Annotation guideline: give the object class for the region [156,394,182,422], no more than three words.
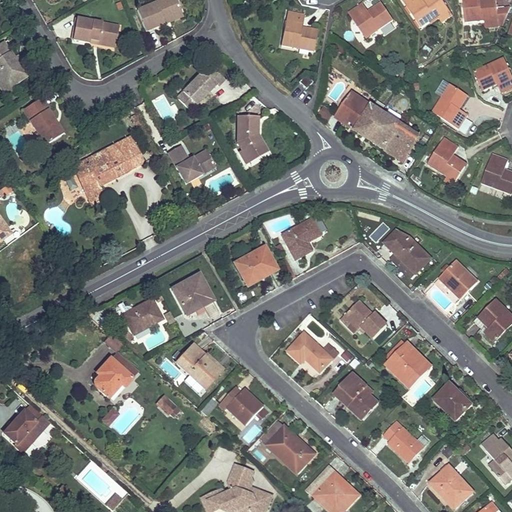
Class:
shed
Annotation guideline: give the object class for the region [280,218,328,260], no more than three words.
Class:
house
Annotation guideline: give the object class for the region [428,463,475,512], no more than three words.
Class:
house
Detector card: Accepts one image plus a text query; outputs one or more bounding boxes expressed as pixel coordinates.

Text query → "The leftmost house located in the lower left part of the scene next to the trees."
[7,405,50,448]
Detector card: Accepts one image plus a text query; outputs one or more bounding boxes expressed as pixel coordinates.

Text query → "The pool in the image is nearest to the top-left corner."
[6,126,23,152]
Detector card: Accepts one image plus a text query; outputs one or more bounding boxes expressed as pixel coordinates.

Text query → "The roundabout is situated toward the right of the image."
[308,148,360,199]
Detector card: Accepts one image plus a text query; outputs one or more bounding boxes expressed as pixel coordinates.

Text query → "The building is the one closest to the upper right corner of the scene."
[462,0,512,28]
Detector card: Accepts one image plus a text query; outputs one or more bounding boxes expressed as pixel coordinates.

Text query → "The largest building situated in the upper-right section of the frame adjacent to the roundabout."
[332,90,421,162]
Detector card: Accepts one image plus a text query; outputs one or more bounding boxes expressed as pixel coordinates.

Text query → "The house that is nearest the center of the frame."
[233,243,280,287]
